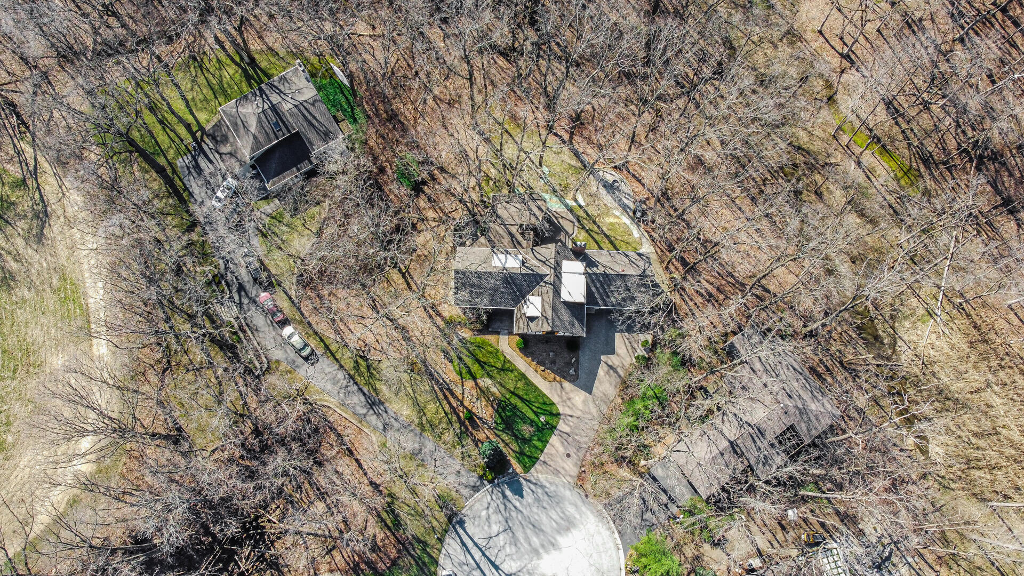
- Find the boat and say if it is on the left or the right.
left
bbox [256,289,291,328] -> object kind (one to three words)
car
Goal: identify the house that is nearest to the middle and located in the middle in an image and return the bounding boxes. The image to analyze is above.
[454,239,662,337]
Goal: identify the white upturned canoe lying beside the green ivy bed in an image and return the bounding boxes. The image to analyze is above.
[331,63,351,89]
